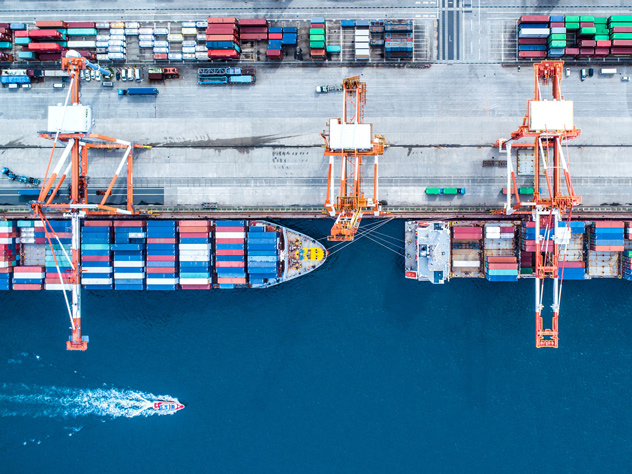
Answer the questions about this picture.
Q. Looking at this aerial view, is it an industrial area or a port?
port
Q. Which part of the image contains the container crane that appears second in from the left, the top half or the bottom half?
top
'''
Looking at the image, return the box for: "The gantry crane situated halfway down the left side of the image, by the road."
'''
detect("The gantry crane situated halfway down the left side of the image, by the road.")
[25,51,153,351]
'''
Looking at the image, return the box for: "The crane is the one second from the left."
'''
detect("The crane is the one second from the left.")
[319,72,391,245]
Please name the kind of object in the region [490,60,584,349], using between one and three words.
container crane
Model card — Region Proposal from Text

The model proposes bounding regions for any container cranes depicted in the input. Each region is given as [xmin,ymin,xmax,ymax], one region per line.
[319,72,391,245]
[490,60,584,349]
[25,51,153,351]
